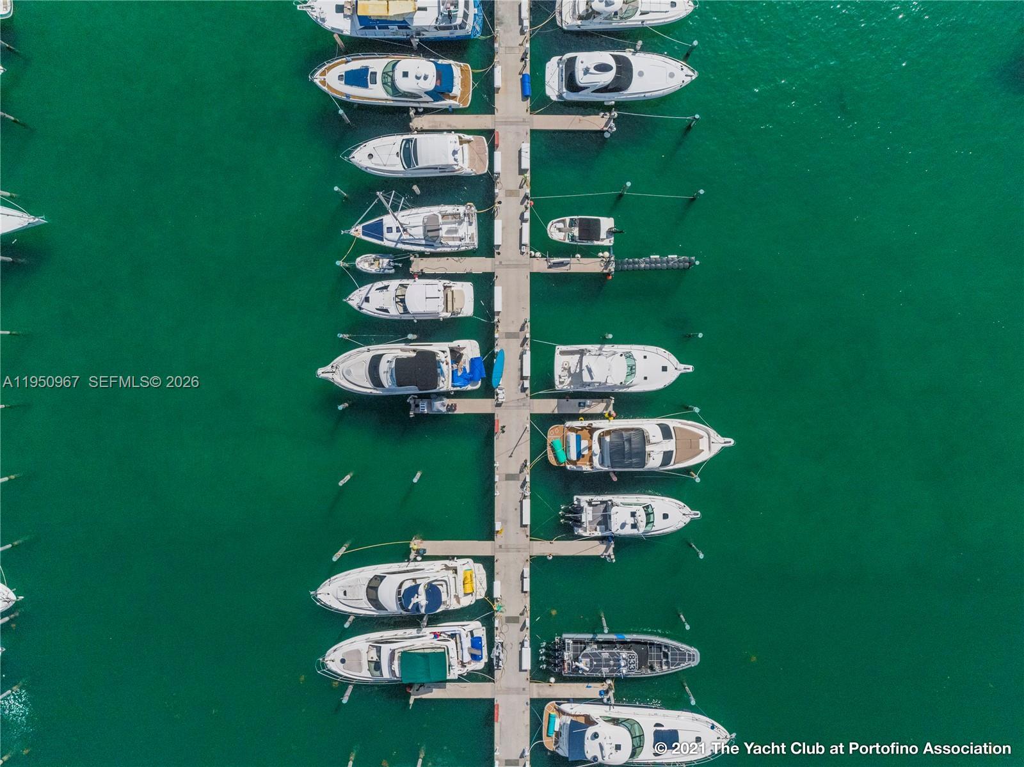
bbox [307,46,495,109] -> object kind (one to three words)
boat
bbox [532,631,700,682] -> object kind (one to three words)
boat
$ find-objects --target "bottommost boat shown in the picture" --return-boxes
[529,698,736,767]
